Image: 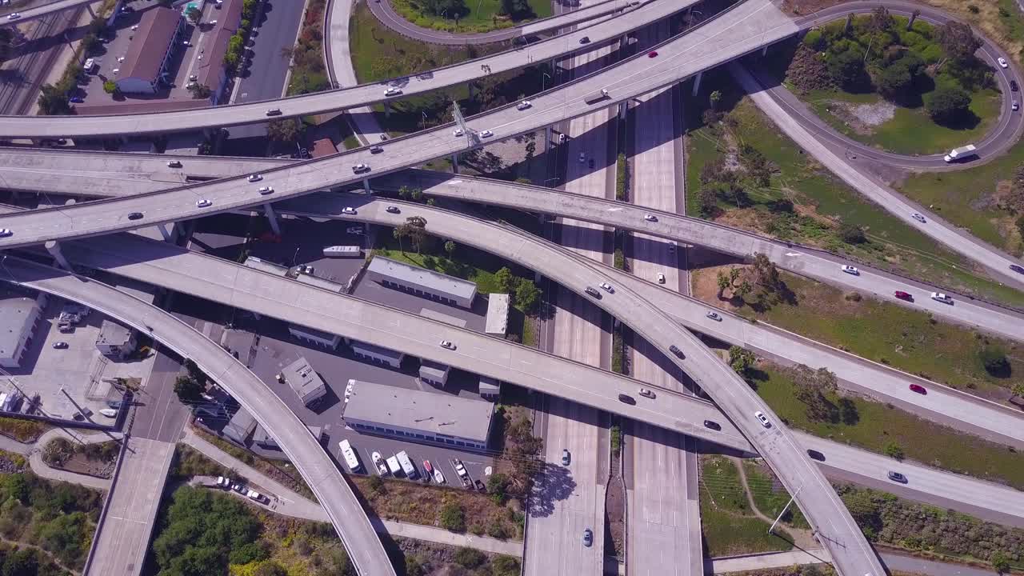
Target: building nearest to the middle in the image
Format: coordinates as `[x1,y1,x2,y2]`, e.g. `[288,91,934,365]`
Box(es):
[486,293,508,338]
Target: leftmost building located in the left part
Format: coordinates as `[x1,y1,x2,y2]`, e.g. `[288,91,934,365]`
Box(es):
[0,296,43,365]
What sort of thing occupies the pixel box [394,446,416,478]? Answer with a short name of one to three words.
camper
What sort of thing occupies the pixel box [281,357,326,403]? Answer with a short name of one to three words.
building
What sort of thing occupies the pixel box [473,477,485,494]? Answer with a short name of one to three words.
vehicle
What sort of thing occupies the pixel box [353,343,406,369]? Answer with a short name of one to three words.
shed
